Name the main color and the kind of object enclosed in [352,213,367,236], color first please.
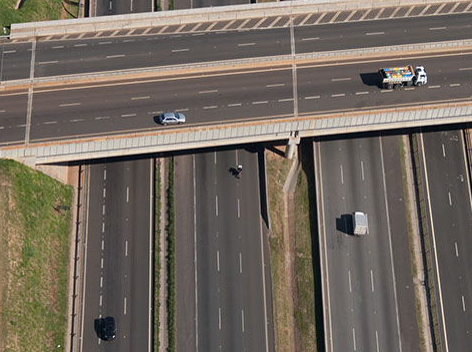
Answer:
white vehicle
